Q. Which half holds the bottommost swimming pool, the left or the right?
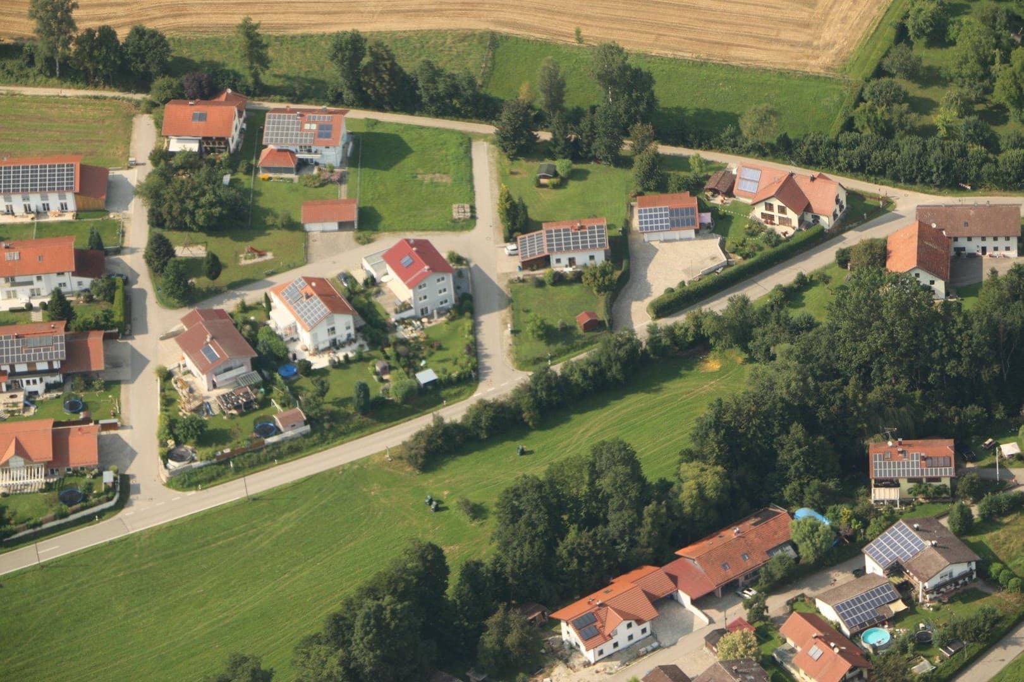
right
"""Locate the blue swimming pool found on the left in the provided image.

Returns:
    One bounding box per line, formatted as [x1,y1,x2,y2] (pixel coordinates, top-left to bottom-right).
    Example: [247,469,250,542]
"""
[277,366,297,383]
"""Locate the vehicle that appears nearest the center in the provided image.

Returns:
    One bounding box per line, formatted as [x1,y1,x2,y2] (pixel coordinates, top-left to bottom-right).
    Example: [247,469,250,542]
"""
[501,244,520,256]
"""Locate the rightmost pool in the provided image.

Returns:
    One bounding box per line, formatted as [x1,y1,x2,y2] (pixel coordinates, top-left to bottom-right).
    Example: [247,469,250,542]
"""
[861,626,890,651]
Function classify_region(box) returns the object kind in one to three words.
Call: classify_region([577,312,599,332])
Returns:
shed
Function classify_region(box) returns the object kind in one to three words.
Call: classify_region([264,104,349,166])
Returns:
house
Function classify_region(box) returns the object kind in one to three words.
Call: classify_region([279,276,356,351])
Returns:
house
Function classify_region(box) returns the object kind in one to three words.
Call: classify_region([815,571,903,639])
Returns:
building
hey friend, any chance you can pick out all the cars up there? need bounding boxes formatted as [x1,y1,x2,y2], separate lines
[977,436,1000,451]
[735,584,757,601]
[334,271,354,288]
[846,566,871,580]
[501,244,520,256]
